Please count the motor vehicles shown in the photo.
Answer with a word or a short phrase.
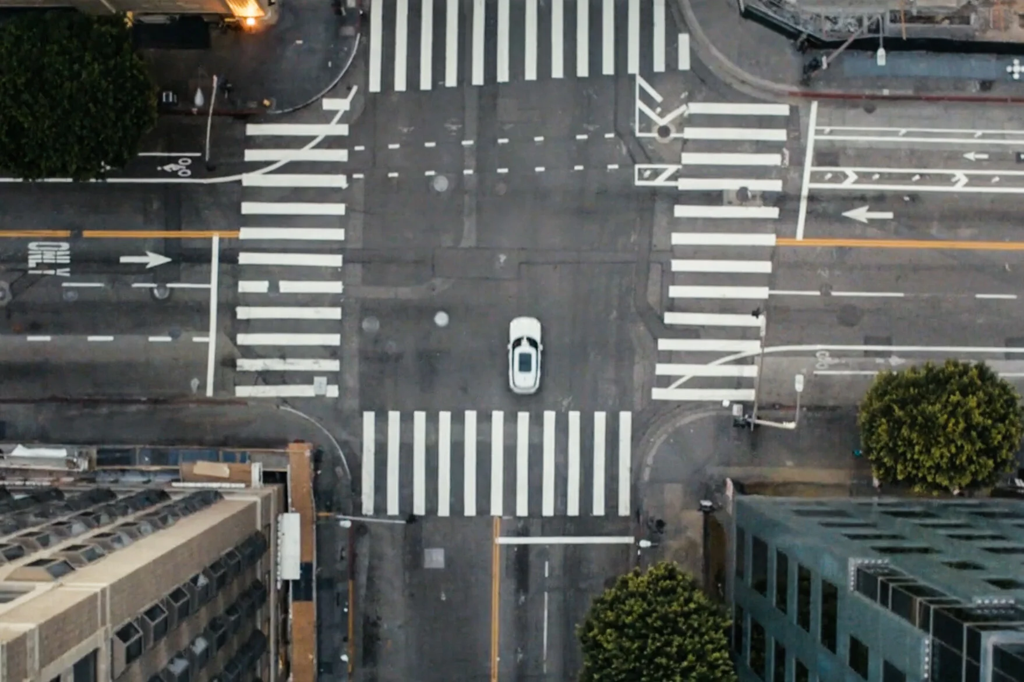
1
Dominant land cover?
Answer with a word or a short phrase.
paved ground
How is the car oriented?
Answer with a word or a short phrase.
up and down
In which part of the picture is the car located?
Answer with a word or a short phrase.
center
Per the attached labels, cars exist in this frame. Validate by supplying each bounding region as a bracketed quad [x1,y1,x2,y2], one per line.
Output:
[507,317,544,394]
